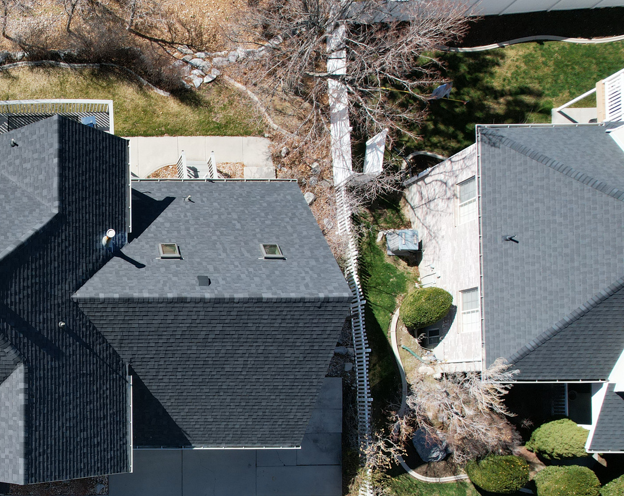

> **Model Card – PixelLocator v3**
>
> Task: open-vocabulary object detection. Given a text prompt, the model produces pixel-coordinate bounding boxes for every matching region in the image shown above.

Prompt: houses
[0,119,347,496]
[405,105,624,455]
